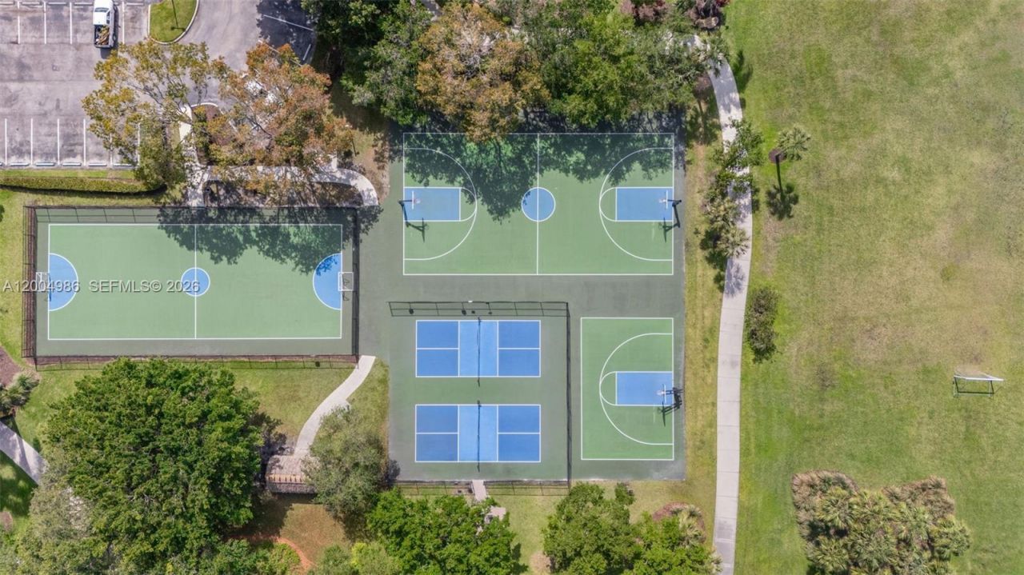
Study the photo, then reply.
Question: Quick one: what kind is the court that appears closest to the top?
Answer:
basketball court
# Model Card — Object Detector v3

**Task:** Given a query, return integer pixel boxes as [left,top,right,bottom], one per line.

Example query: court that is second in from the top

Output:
[48,224,342,339]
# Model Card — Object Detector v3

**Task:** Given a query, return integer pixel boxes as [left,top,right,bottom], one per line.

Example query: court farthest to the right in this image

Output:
[581,317,674,459]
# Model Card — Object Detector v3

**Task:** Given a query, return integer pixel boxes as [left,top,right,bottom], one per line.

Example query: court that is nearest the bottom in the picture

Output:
[416,404,541,462]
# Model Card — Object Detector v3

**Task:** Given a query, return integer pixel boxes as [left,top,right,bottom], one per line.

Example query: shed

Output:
[262,452,325,497]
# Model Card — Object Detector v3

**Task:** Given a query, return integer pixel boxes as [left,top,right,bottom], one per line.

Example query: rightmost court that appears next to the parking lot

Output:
[403,133,673,274]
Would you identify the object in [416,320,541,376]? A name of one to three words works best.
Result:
sports court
